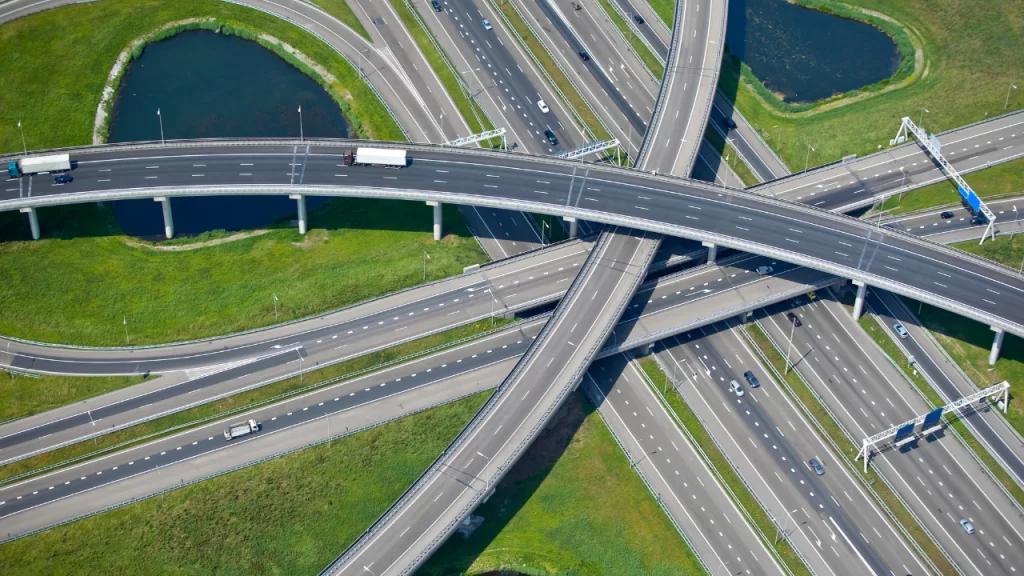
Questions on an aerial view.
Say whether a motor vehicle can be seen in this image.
Yes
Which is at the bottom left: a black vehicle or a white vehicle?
white vehicle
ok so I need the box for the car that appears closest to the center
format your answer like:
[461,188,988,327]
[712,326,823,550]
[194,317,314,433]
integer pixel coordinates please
[544,129,557,142]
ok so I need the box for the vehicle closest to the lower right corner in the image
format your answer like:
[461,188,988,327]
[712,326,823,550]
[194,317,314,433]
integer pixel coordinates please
[958,517,977,535]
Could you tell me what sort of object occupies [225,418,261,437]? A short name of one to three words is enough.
vehicle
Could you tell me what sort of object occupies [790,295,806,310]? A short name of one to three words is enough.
car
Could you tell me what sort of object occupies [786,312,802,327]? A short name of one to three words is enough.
car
